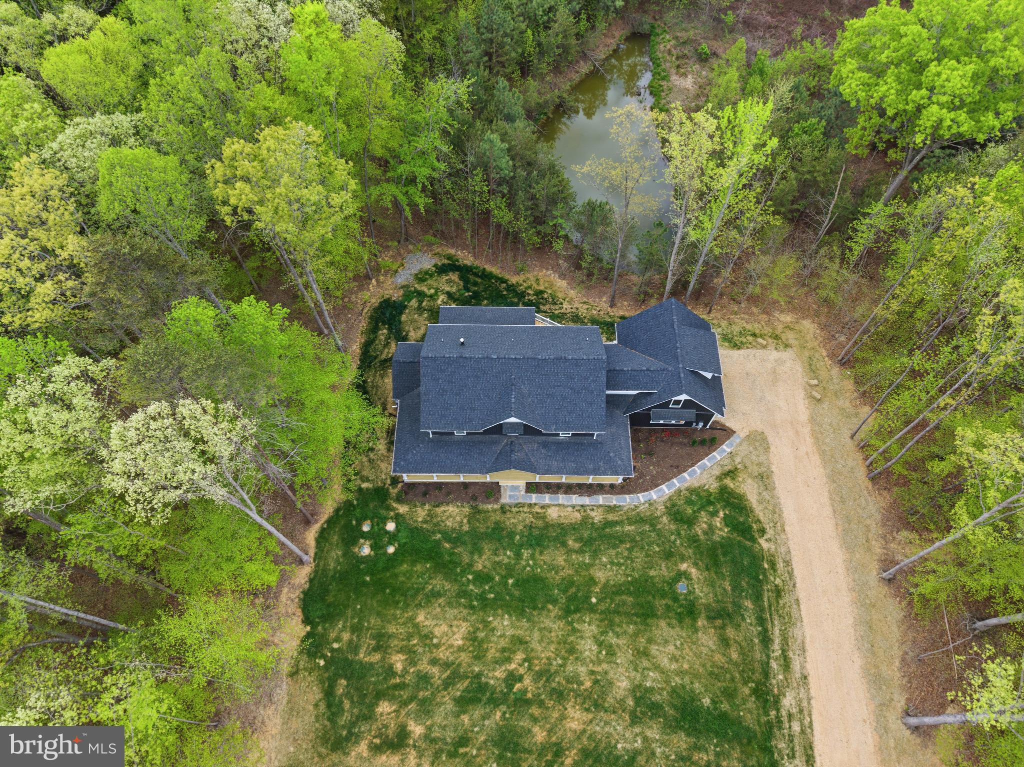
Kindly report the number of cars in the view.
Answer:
zero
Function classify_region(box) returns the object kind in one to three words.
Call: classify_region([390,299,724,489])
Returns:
house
